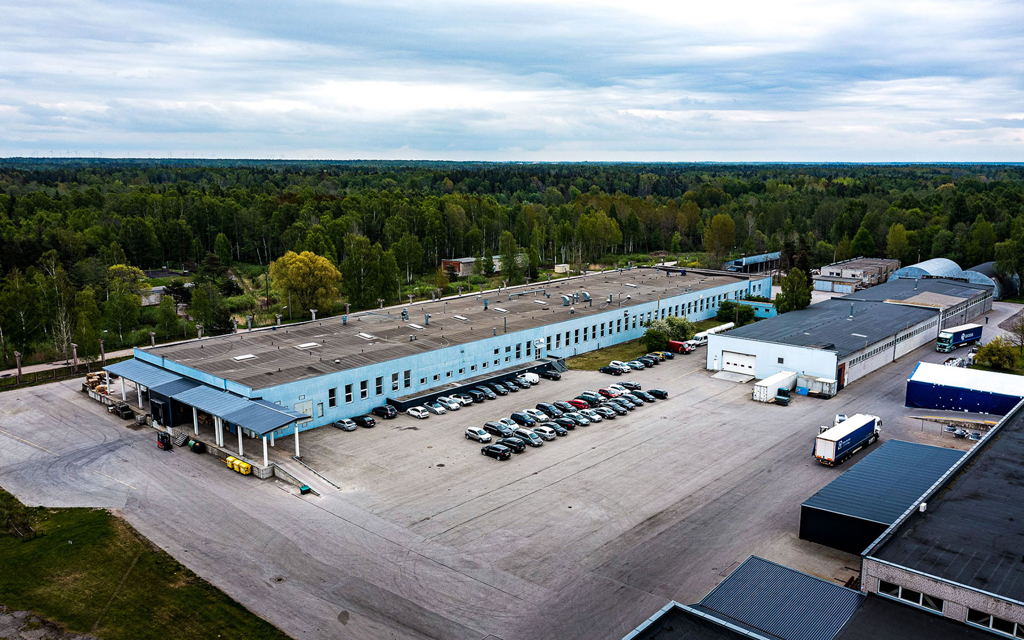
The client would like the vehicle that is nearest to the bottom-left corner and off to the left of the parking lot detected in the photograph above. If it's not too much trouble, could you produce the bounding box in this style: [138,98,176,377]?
[156,433,178,450]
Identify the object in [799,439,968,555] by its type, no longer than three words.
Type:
shed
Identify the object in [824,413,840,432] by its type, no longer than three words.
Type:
work vehicle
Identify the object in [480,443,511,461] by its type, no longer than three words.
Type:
car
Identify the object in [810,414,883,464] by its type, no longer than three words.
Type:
truck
